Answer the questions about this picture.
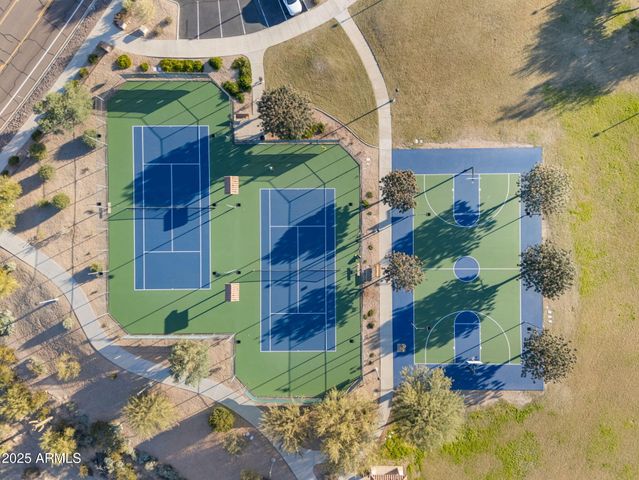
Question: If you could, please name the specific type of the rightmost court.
basketball court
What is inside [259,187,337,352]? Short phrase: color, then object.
blue tennis court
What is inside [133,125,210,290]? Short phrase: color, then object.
blue tennis court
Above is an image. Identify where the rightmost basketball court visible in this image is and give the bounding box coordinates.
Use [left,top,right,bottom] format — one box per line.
[393,148,544,392]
